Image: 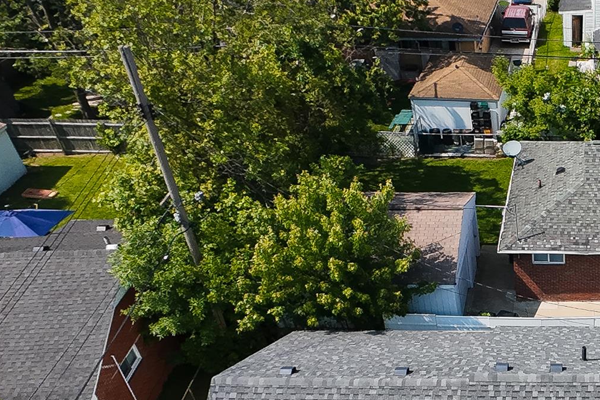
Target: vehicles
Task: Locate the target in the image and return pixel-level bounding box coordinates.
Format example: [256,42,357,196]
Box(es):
[512,0,536,13]
[502,6,533,39]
